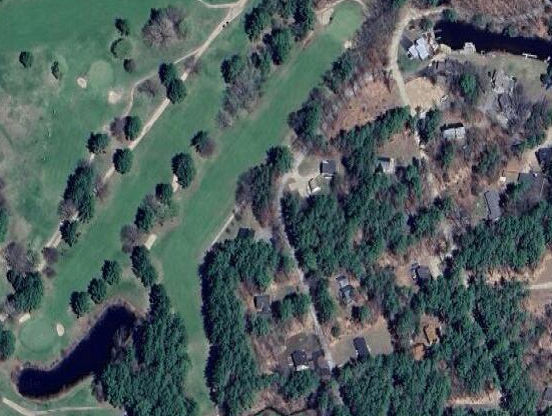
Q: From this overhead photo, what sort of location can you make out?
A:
golf course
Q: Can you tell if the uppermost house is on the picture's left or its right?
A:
right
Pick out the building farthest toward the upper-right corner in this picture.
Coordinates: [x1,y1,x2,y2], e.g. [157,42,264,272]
[493,70,514,95]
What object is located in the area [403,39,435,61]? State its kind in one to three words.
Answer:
house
